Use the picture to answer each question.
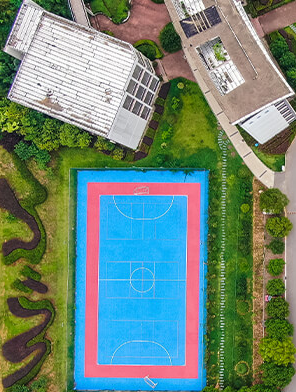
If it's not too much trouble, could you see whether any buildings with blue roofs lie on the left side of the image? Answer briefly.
No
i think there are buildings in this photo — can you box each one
[5,0,159,147]
[170,0,296,144]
